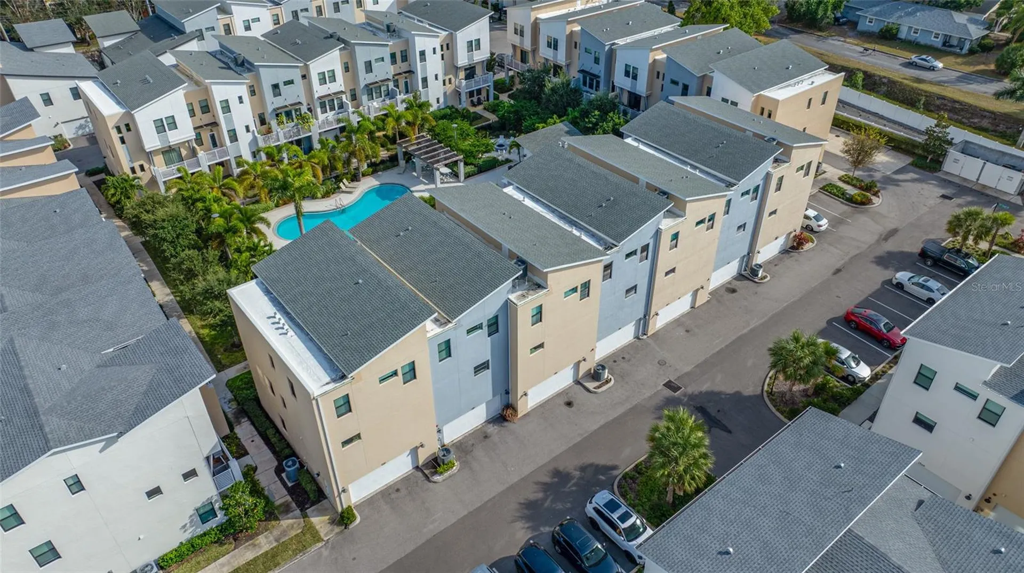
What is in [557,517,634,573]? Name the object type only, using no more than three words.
car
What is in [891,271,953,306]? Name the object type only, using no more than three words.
car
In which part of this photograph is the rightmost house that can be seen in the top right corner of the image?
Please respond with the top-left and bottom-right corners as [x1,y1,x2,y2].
[823,0,1004,56]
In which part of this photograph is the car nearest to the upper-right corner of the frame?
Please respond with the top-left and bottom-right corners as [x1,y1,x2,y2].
[908,56,943,70]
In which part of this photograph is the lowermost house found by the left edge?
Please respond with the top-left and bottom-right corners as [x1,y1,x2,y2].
[0,182,245,573]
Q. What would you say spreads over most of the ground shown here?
buildings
